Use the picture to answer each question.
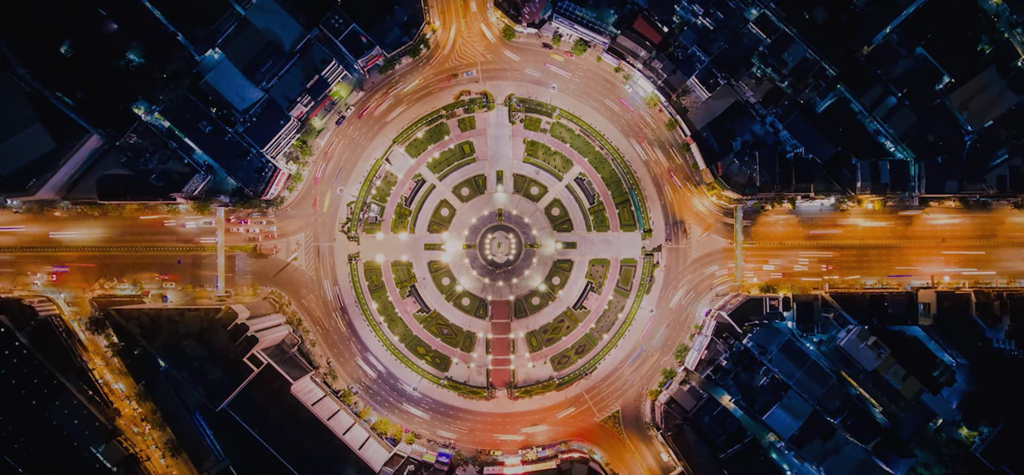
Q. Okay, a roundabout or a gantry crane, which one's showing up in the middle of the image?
roundabout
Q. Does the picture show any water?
No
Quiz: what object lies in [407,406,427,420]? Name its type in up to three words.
vehicle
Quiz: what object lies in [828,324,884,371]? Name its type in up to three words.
building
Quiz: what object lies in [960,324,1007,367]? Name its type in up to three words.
house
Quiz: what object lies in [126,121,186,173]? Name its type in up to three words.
house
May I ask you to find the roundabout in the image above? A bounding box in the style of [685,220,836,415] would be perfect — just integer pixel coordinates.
[286,32,714,449]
